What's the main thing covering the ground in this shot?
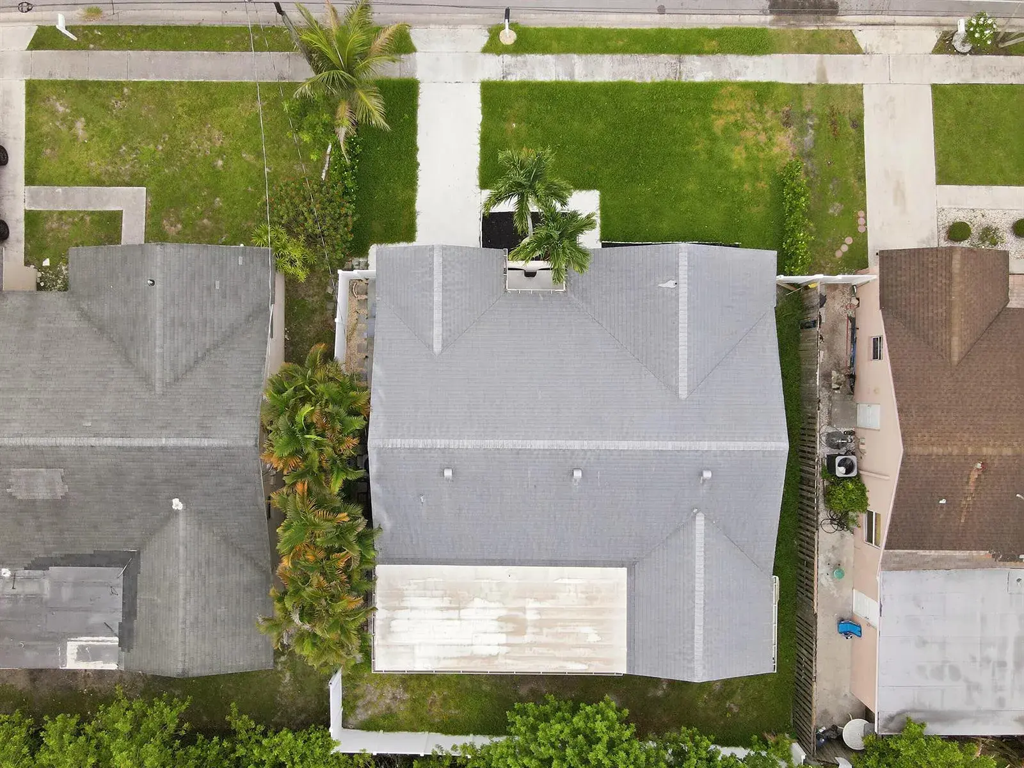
buildings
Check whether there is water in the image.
No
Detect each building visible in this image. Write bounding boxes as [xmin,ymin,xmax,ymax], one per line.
[0,242,287,680]
[369,241,788,681]
[851,248,1024,735]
